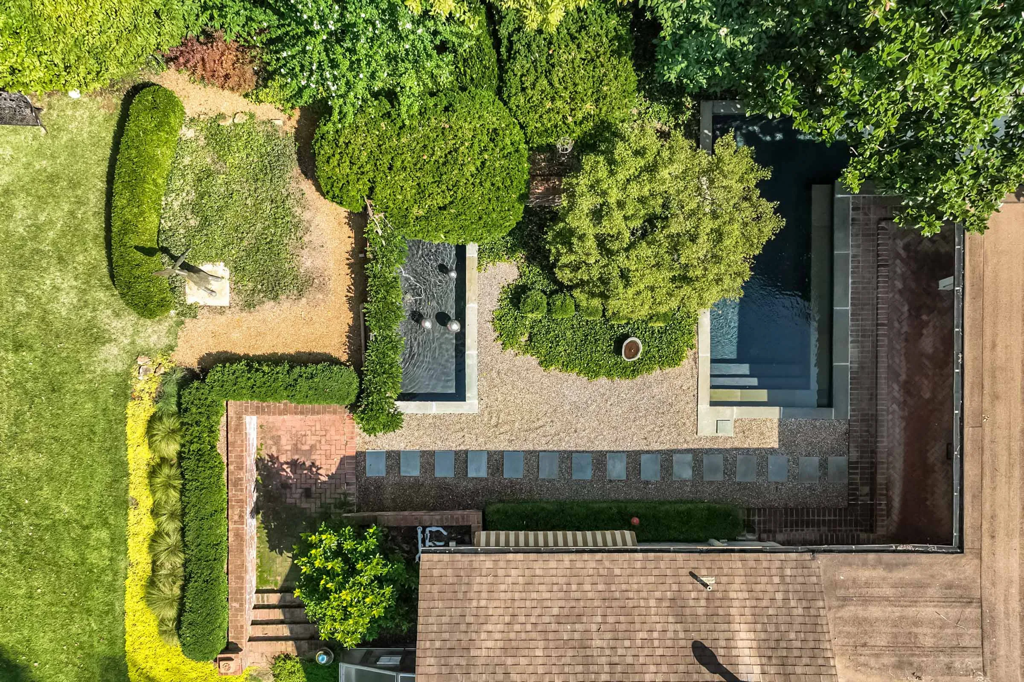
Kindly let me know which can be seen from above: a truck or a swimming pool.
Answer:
swimming pool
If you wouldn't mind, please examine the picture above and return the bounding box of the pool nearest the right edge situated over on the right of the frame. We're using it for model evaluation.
[698,101,899,435]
